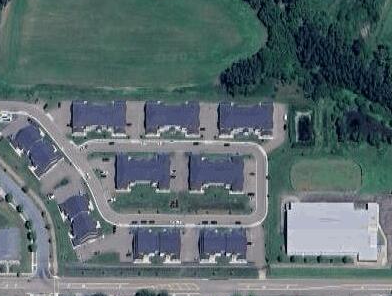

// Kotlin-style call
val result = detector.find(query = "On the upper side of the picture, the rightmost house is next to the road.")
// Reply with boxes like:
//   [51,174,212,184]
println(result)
[219,100,273,136]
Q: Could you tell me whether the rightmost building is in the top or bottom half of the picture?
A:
bottom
